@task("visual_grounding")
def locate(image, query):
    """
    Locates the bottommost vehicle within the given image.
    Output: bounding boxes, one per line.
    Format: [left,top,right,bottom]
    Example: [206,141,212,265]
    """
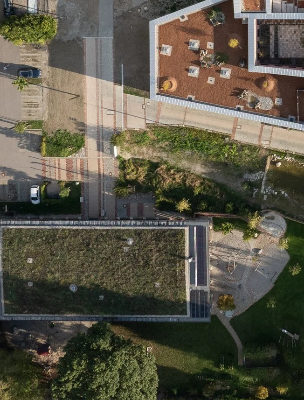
[26,185,40,207]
